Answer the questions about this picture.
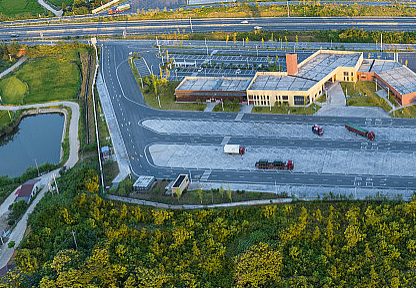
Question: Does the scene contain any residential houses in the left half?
Yes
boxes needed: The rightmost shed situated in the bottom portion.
[159,174,191,193]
